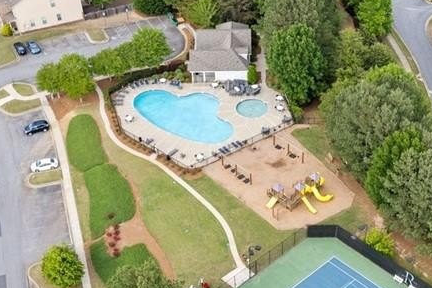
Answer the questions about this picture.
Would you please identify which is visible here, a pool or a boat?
pool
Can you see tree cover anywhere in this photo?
Yes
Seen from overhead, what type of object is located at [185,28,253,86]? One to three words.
building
